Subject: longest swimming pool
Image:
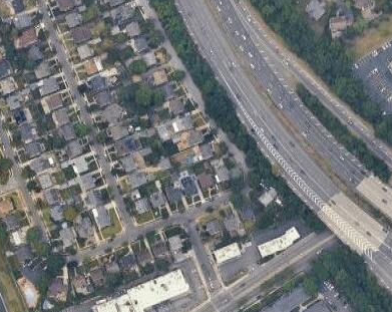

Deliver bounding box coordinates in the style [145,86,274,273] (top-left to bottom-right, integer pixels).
[20,276,39,311]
